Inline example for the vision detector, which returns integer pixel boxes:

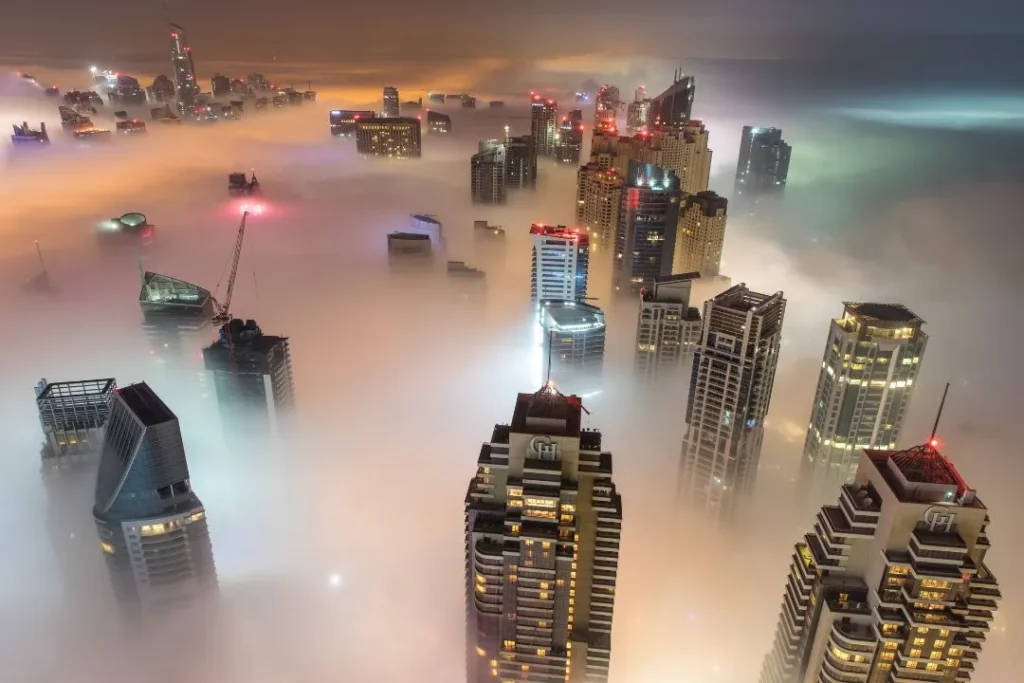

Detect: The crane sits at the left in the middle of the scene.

[207,210,257,378]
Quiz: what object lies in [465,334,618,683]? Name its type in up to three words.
building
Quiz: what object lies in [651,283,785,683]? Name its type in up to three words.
building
